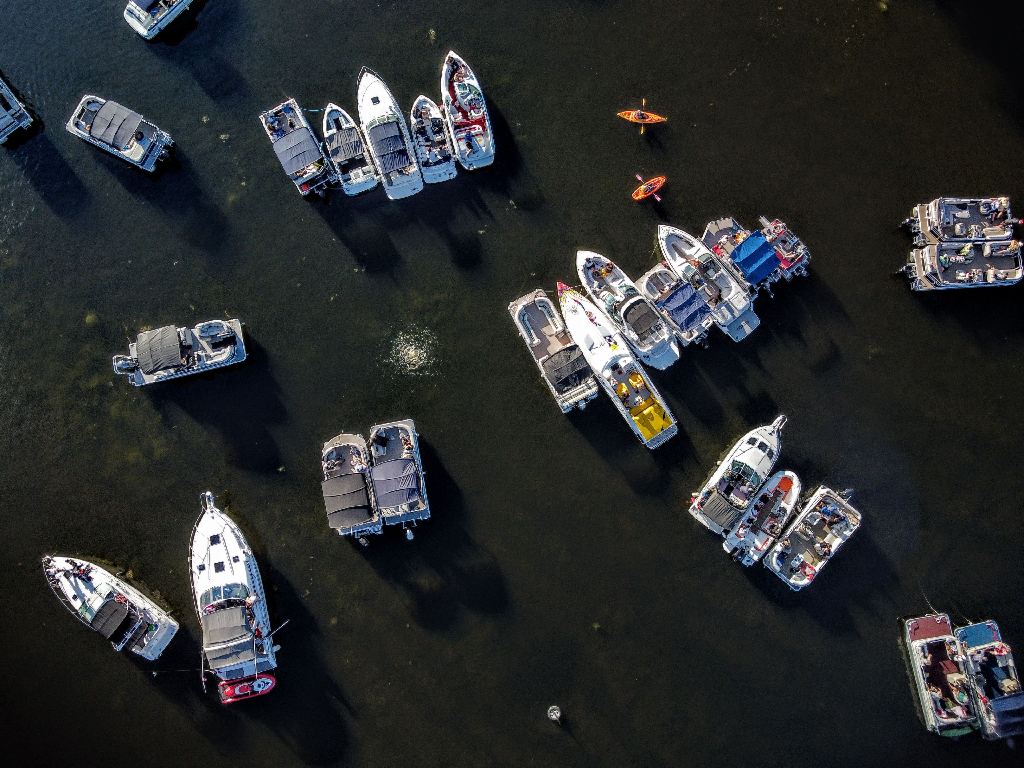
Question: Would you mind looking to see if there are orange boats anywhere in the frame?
Yes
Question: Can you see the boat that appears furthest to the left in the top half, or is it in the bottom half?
top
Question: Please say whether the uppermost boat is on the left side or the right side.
left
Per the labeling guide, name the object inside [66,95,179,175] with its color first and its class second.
gray boat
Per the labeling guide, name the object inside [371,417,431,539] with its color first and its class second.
gray boat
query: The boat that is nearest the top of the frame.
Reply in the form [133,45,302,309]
[123,0,200,41]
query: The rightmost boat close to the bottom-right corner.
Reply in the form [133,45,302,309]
[952,613,1024,751]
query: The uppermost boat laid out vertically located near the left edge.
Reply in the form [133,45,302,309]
[0,70,38,157]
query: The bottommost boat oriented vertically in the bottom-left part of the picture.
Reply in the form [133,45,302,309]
[188,491,290,693]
